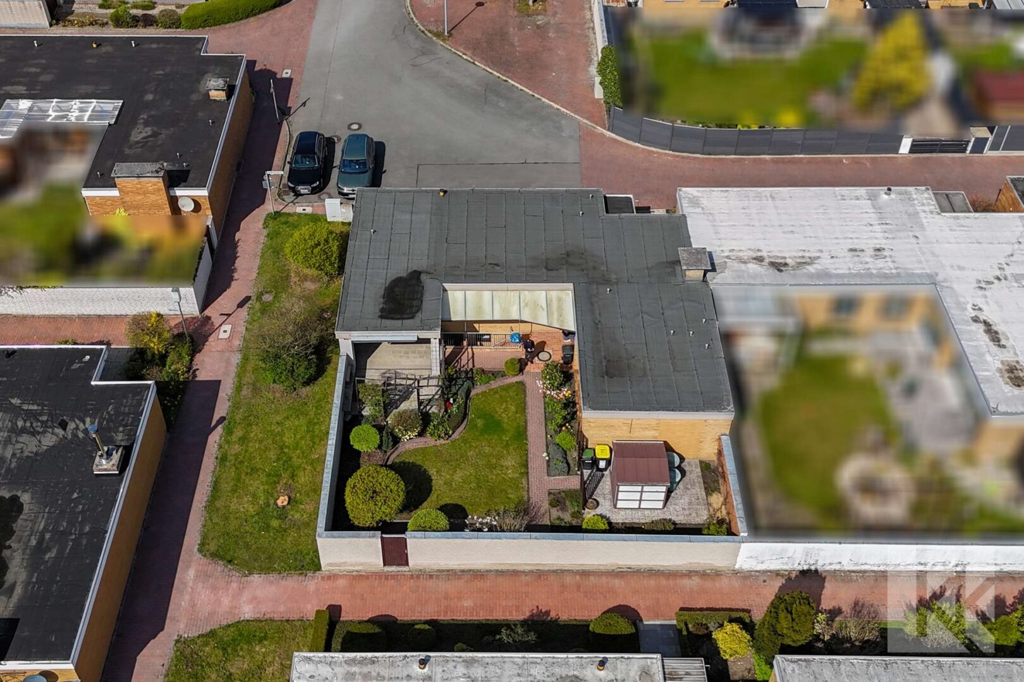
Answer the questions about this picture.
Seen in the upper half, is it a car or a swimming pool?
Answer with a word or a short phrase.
car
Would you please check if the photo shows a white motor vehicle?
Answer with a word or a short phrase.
No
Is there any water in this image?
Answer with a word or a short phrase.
No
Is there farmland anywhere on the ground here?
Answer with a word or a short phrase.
No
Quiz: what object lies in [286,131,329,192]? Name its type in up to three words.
car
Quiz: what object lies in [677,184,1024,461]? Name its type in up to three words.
house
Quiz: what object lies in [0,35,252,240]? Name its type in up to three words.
house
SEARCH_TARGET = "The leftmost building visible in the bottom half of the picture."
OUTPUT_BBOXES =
[0,344,164,682]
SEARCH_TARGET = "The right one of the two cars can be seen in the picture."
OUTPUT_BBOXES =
[334,132,376,197]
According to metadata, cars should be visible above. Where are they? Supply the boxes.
[334,132,376,197]
[286,131,329,192]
